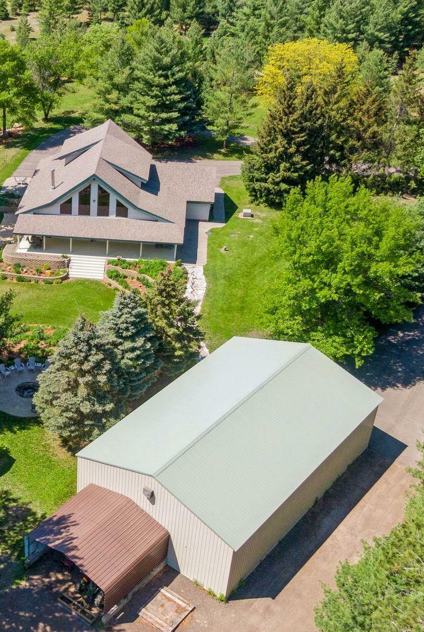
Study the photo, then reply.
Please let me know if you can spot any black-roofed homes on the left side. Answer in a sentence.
No, no black-roofed home appears on the left side.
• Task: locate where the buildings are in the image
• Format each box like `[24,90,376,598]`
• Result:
[13,118,219,279]
[75,335,384,600]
